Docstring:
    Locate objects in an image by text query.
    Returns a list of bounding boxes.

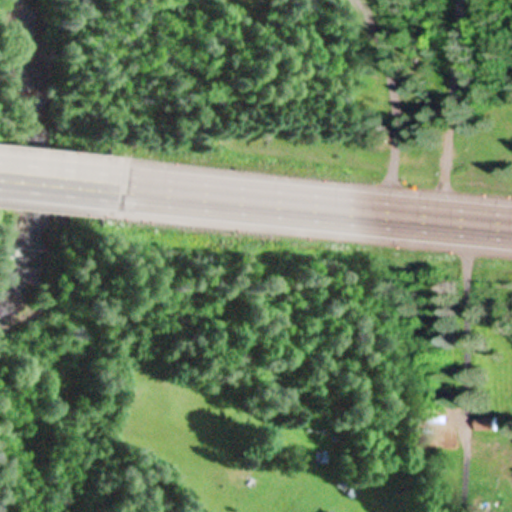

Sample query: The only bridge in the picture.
[0,144,130,222]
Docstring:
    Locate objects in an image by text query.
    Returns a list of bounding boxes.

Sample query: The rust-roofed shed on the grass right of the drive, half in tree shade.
[472,417,494,434]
